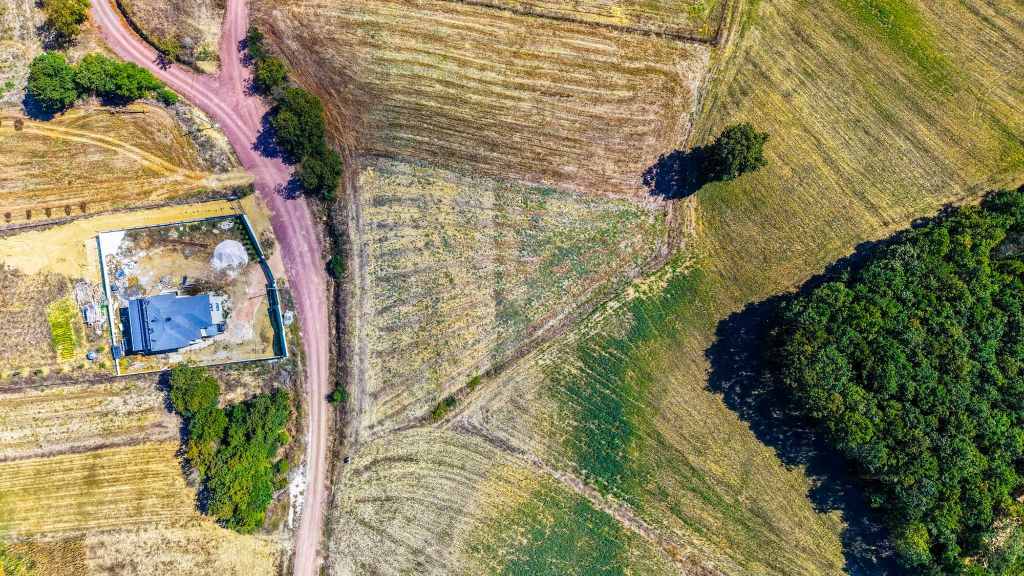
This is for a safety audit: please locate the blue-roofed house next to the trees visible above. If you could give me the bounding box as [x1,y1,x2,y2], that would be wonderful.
[126,293,227,351]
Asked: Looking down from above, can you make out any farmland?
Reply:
Yes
